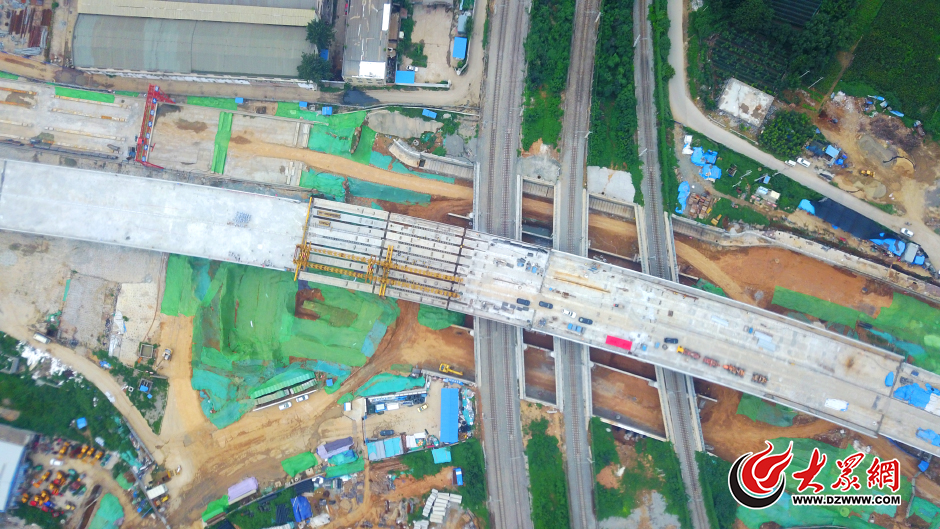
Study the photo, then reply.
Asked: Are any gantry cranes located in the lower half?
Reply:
No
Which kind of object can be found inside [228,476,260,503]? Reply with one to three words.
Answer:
shed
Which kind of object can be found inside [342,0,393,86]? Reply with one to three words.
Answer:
building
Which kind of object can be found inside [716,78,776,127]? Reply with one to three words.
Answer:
house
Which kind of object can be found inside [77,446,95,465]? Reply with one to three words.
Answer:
work vehicle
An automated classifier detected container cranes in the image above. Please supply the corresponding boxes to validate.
[132,83,177,174]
